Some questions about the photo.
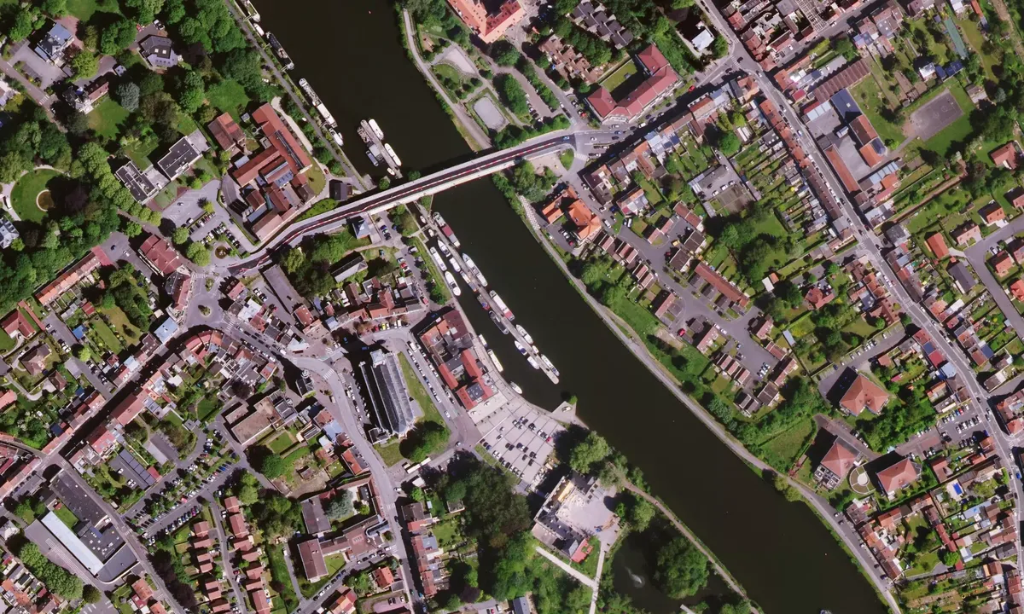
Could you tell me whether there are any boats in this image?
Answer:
Yes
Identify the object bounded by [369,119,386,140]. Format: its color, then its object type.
white boat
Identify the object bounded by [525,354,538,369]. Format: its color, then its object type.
white boat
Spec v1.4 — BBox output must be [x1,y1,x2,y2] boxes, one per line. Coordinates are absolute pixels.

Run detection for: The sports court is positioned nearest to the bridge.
[474,96,506,130]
